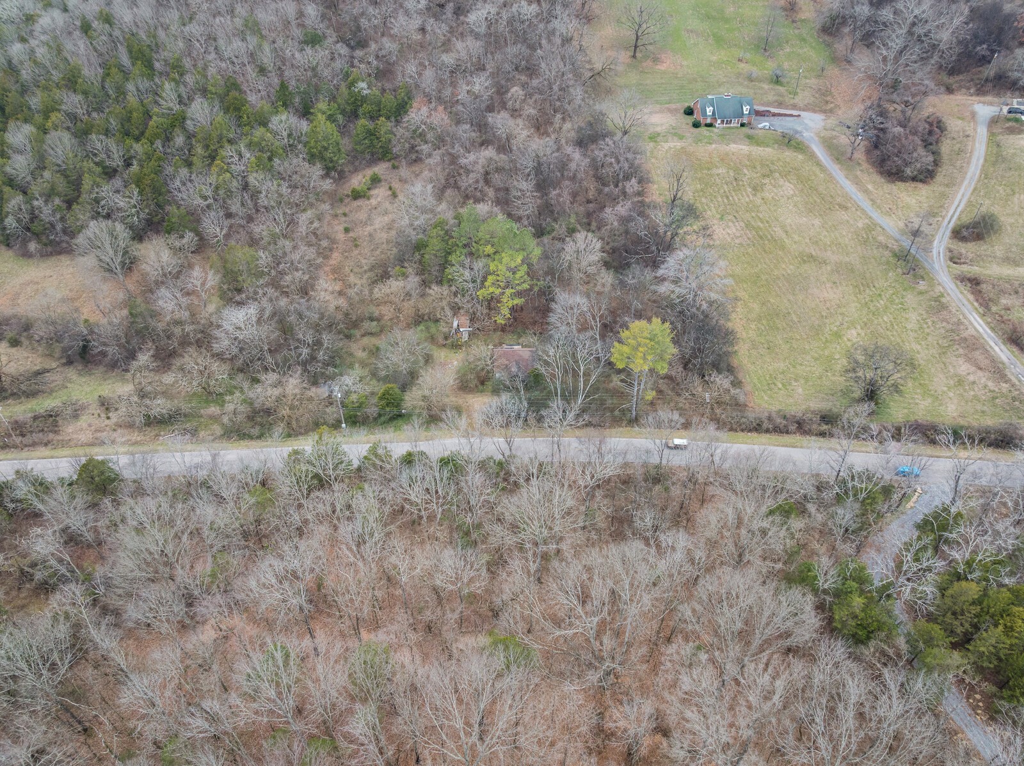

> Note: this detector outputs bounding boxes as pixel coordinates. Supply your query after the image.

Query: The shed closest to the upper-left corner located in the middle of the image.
[451,312,472,340]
